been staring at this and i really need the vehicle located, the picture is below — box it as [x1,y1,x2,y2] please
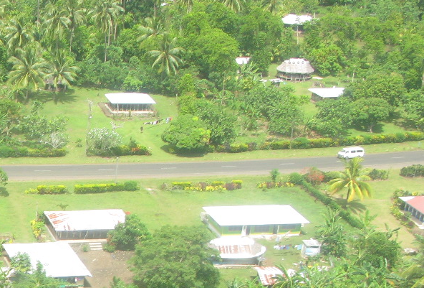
[339,147,366,159]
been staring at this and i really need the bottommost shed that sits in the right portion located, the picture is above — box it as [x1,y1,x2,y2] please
[245,263,288,288]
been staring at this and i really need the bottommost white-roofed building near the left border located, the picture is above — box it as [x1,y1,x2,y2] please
[15,243,92,288]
